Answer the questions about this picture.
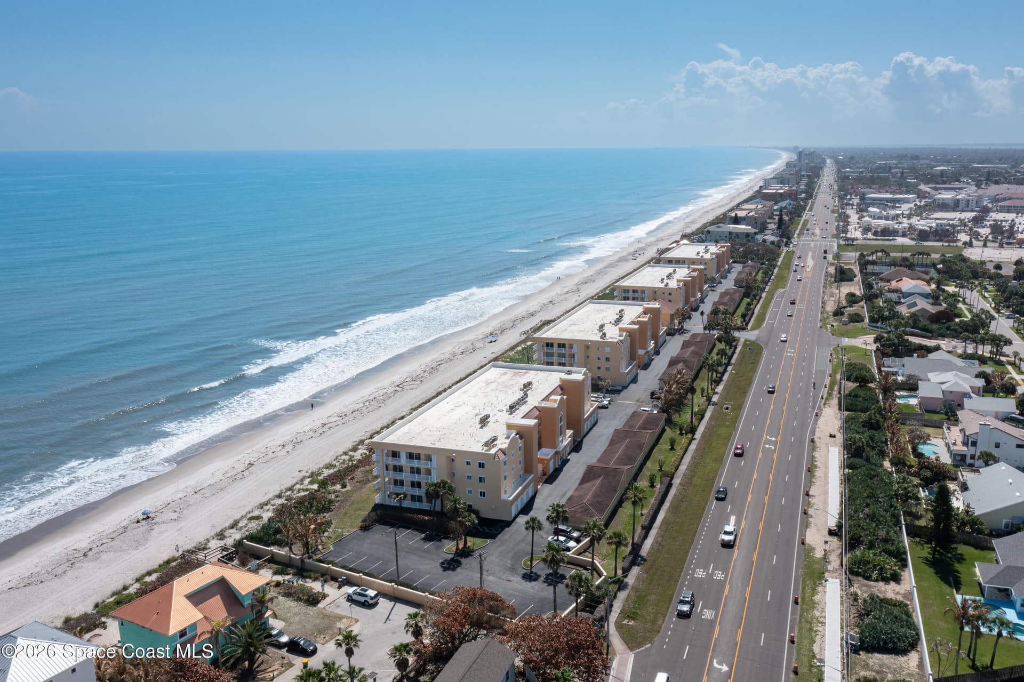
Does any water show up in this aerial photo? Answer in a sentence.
Yes, the picture does contain water.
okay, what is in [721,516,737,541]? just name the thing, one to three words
vehicle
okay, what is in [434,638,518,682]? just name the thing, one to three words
house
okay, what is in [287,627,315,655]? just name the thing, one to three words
car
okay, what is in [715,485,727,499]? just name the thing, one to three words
vehicle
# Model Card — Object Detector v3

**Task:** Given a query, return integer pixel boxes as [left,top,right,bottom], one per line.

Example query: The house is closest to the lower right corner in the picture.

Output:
[974,537,1024,617]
